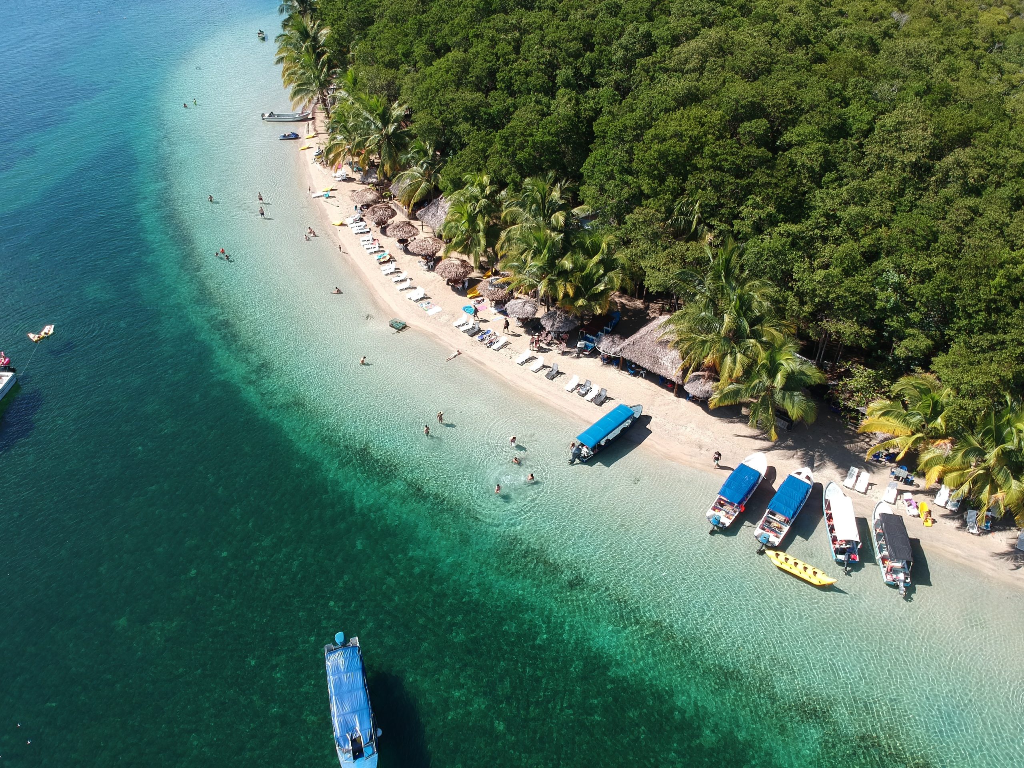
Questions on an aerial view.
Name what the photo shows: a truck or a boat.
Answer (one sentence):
The image shows a boat.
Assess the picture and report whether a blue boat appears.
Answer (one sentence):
Yes, a blue boat appears in the view.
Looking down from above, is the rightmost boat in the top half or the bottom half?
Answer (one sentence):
Seen from above, the rightmost boat lies in the bottom half of the view.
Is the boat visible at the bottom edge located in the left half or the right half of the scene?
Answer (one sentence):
The boat visible at the bottom edge sits on the left side.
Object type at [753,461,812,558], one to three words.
boat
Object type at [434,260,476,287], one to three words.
umbrella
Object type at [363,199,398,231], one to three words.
umbrella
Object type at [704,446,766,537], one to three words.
boat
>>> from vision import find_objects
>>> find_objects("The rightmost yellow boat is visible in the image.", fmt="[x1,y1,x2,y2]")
[766,549,838,584]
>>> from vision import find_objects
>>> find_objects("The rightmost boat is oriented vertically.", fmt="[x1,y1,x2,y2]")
[871,497,913,603]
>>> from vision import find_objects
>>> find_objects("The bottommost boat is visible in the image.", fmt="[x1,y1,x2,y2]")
[324,627,379,768]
